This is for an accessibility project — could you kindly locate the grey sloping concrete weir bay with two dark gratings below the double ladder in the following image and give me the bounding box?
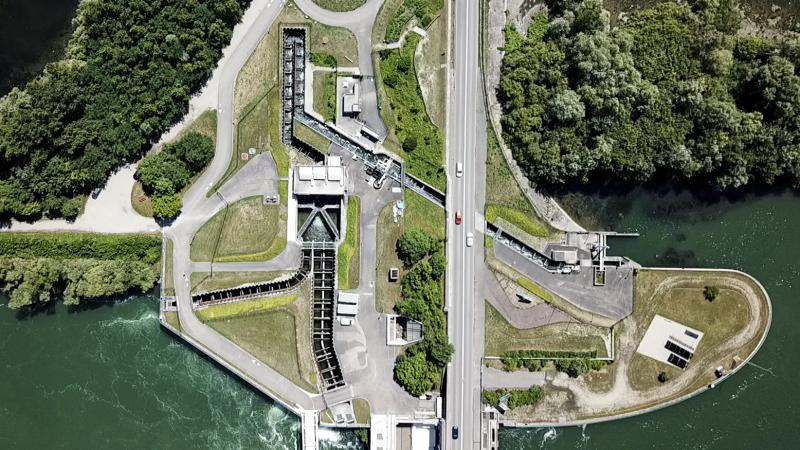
[319,398,370,427]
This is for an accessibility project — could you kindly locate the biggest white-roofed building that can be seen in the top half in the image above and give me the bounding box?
[294,156,348,200]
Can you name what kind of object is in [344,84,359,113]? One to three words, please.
building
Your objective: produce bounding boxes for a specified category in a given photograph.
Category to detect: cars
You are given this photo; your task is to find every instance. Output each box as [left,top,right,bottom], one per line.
[456,162,462,177]
[455,211,462,224]
[425,393,434,400]
[466,232,473,246]
[419,395,430,401]
[452,426,459,441]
